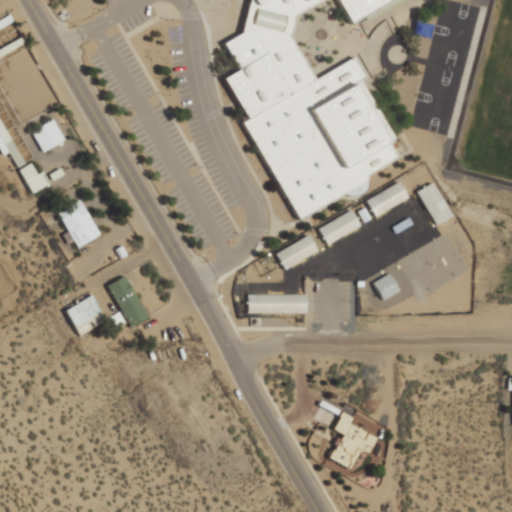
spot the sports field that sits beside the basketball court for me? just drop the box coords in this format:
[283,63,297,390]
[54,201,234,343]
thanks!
[464,0,512,180]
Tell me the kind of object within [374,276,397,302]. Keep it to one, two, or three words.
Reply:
shed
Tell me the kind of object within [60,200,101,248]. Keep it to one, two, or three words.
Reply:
house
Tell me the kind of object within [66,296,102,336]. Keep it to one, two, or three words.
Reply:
house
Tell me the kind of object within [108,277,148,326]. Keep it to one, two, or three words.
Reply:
building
